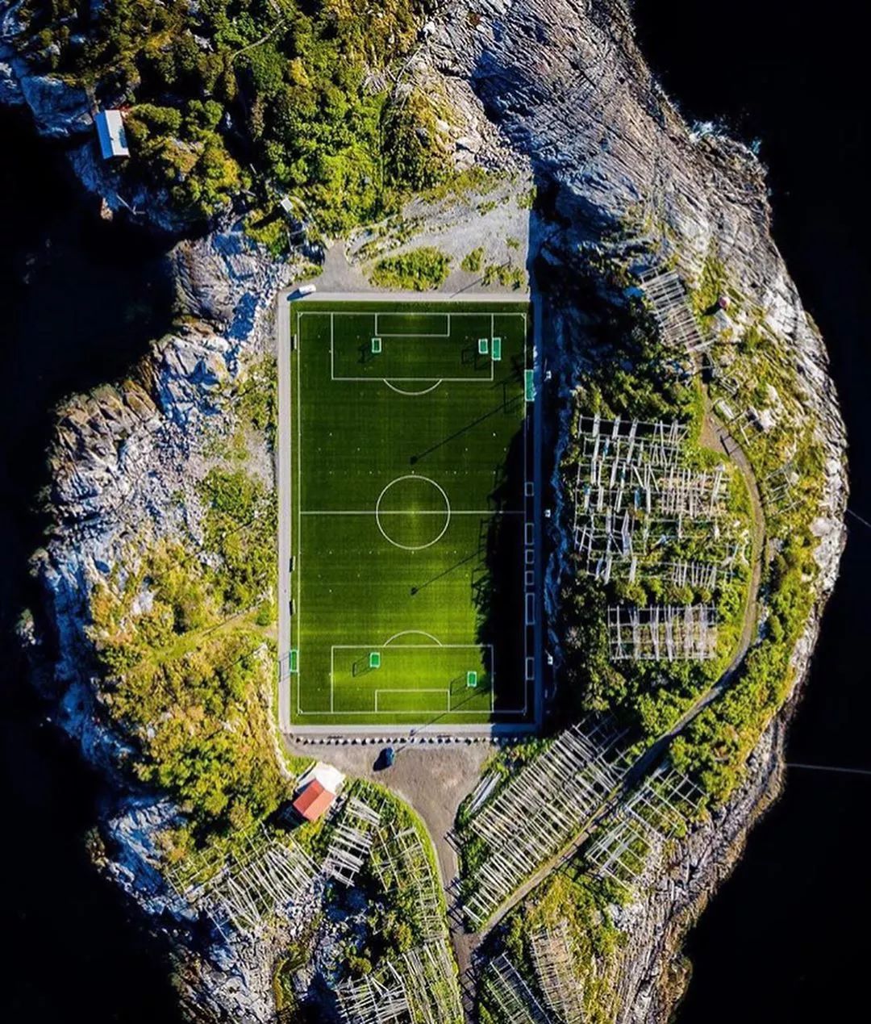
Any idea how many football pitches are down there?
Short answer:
1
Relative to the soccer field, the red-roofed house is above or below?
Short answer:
below it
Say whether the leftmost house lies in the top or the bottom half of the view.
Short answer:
top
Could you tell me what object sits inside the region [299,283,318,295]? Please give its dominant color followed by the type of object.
white vehicle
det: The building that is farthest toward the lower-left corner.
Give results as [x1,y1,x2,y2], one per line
[293,778,336,823]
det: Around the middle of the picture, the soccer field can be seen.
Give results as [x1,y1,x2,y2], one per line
[291,301,534,724]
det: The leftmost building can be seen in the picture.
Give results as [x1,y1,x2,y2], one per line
[95,111,129,165]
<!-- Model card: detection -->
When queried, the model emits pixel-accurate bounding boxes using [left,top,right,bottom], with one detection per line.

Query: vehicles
[383,747,392,766]
[299,283,318,295]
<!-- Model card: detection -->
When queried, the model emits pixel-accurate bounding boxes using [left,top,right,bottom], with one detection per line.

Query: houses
[95,111,129,165]
[293,778,336,823]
